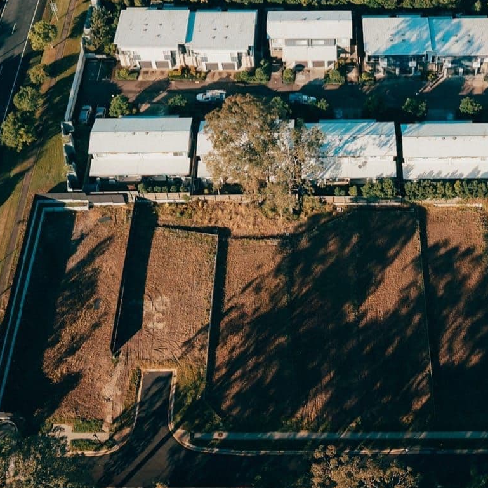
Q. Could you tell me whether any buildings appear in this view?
Yes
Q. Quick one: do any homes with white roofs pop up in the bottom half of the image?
No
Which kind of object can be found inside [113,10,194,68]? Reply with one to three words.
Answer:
house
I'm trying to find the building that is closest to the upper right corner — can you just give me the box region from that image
[430,18,488,77]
